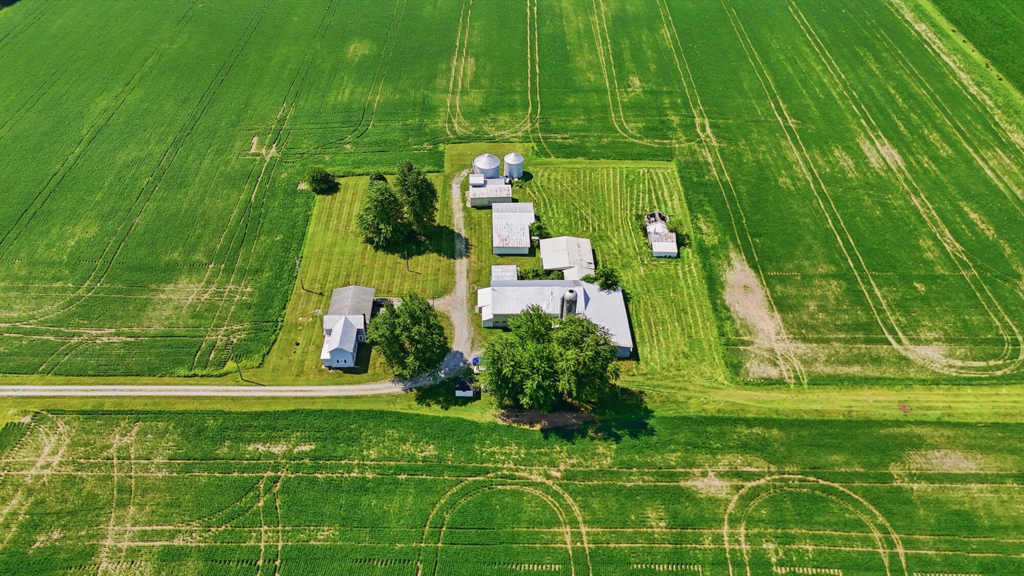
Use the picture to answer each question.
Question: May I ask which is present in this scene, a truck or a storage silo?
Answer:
storage silo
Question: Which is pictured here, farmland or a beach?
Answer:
farmland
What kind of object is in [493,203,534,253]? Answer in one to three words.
shed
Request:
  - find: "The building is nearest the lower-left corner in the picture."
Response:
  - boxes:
[320,281,376,373]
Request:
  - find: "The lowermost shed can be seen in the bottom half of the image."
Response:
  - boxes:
[453,378,475,396]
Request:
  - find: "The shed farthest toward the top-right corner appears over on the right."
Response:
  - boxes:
[643,212,676,257]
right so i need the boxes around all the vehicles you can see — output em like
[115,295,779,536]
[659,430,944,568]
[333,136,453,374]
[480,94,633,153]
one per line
[473,358,485,368]
[473,366,484,376]
[378,298,398,308]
